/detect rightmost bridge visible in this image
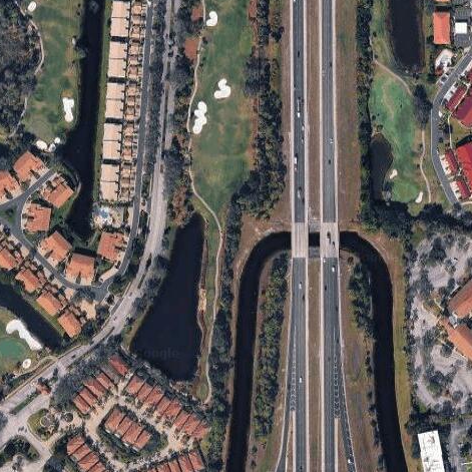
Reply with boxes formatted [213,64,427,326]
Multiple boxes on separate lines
[320,222,338,257]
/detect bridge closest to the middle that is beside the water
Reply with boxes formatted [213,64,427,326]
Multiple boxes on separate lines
[291,222,308,257]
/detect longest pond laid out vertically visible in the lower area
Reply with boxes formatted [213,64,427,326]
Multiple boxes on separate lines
[133,213,202,380]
